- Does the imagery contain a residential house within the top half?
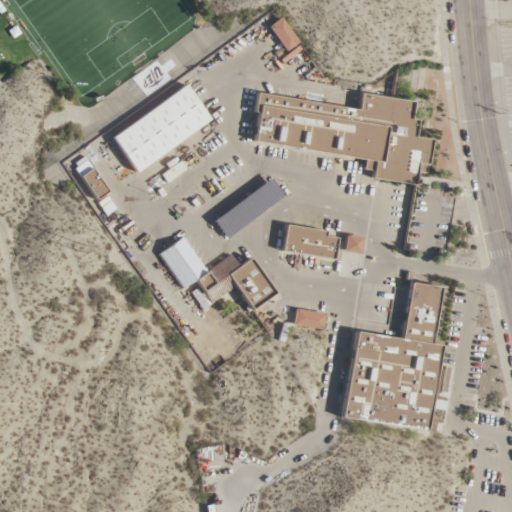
Yes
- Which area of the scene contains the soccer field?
top left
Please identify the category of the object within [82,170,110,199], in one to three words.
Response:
building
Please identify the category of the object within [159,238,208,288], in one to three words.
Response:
shed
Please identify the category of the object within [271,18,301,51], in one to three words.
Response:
house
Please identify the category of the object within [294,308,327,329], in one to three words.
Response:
house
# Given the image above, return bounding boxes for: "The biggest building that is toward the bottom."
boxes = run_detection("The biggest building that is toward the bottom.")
[342,271,445,428]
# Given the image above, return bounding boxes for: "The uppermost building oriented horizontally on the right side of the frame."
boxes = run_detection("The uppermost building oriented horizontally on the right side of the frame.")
[255,92,436,184]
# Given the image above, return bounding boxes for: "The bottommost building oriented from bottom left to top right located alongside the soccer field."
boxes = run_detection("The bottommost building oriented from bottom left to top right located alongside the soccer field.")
[112,85,213,172]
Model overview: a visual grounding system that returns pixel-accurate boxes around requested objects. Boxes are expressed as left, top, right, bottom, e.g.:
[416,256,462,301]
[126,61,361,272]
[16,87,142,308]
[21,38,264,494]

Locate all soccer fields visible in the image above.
[6,0,196,108]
